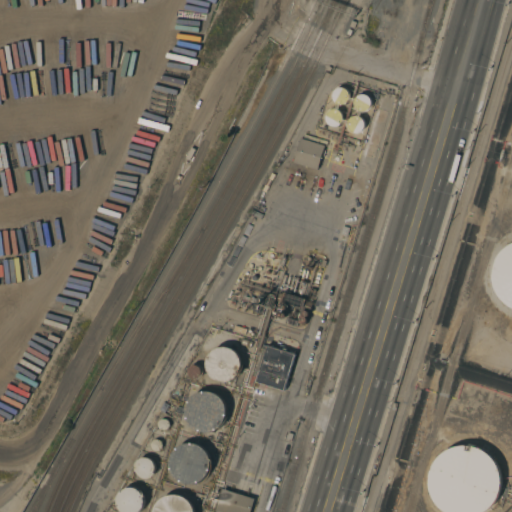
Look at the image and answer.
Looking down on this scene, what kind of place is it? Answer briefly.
industrial area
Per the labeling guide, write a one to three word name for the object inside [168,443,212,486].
storage tank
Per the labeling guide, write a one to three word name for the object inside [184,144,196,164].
vehicle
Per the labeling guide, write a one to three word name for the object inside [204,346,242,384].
storage tank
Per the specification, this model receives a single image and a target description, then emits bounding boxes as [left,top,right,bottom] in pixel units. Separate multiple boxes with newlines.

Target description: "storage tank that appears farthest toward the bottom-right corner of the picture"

[427,444,502,512]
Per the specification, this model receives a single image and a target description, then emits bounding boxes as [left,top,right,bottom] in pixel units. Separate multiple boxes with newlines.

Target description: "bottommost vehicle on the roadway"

[266,475,280,512]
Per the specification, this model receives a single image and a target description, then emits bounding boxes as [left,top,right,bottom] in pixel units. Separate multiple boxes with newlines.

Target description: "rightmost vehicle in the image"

[448,137,466,184]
